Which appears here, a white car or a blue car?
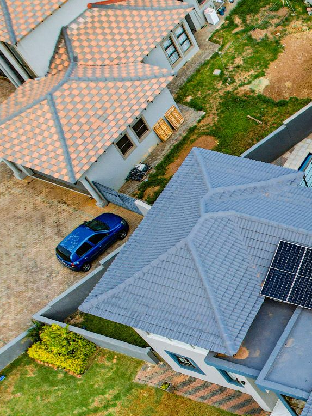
blue car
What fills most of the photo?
buildings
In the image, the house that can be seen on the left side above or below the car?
above it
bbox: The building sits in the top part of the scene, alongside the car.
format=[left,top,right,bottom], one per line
[0,0,230,210]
